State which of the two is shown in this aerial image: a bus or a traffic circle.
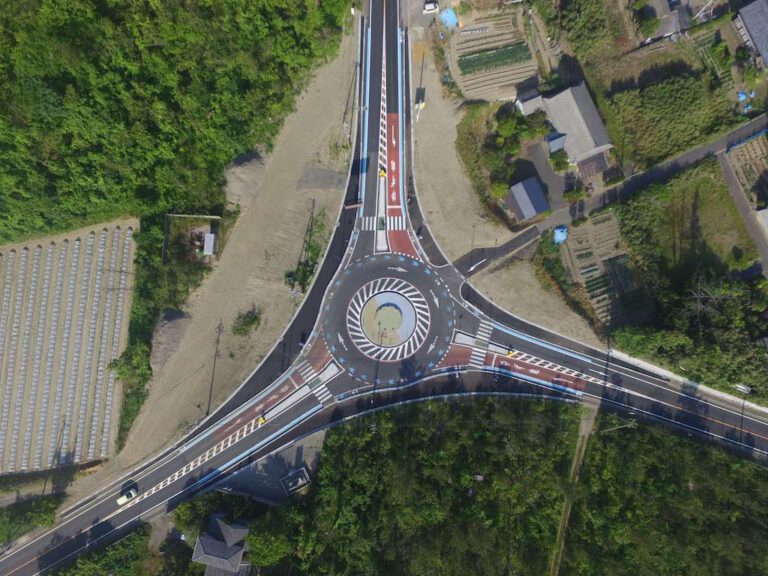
traffic circle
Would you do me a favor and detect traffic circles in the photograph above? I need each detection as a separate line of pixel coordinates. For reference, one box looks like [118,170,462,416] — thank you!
[322,252,454,386]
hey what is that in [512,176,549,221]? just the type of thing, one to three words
barn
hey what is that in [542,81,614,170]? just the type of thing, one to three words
house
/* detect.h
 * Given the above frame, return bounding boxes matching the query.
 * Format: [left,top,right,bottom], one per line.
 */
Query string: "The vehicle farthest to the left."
[118,488,139,504]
